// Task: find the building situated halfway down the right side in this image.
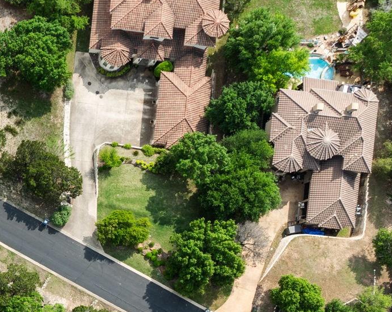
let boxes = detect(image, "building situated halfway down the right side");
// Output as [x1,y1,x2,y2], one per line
[260,75,379,230]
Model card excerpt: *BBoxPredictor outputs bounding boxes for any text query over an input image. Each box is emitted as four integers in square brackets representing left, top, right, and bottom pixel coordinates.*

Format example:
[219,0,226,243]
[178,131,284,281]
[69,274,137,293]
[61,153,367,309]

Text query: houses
[260,75,379,230]
[85,0,231,150]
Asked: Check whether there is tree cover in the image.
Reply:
Yes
